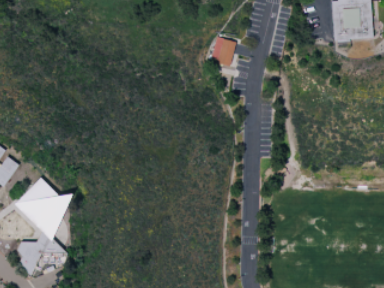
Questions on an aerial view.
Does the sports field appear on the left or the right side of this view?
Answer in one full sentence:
It is on the right.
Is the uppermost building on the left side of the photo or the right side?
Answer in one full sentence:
The uppermost building is on the right side of the image.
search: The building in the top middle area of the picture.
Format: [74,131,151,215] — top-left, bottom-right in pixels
[214,36,237,66]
